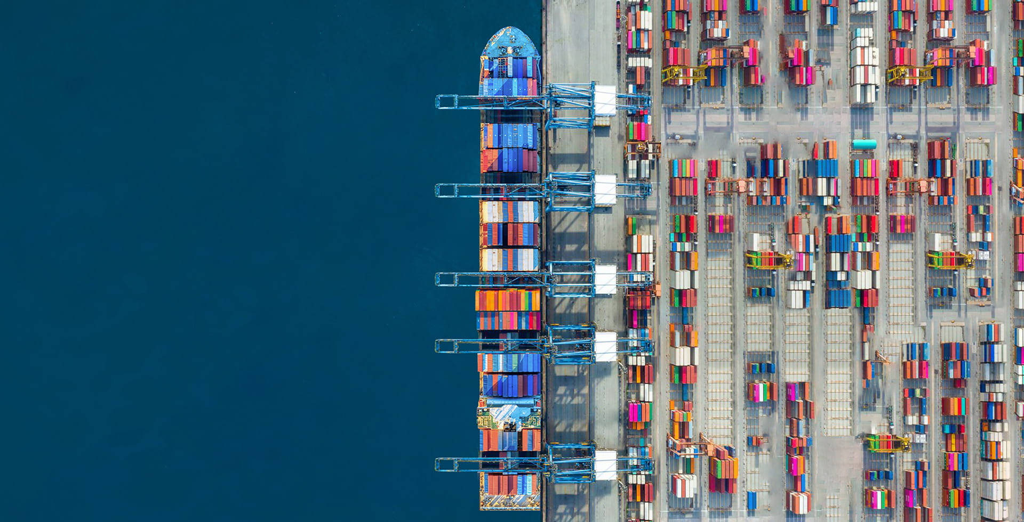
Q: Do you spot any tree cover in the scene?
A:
No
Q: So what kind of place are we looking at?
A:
port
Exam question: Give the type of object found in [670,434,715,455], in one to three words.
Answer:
container crane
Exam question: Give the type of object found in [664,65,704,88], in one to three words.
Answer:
container crane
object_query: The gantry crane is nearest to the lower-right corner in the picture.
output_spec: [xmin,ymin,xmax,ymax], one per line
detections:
[859,431,912,452]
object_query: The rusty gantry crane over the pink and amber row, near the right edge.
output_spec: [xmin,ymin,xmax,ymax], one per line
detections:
[923,45,977,68]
